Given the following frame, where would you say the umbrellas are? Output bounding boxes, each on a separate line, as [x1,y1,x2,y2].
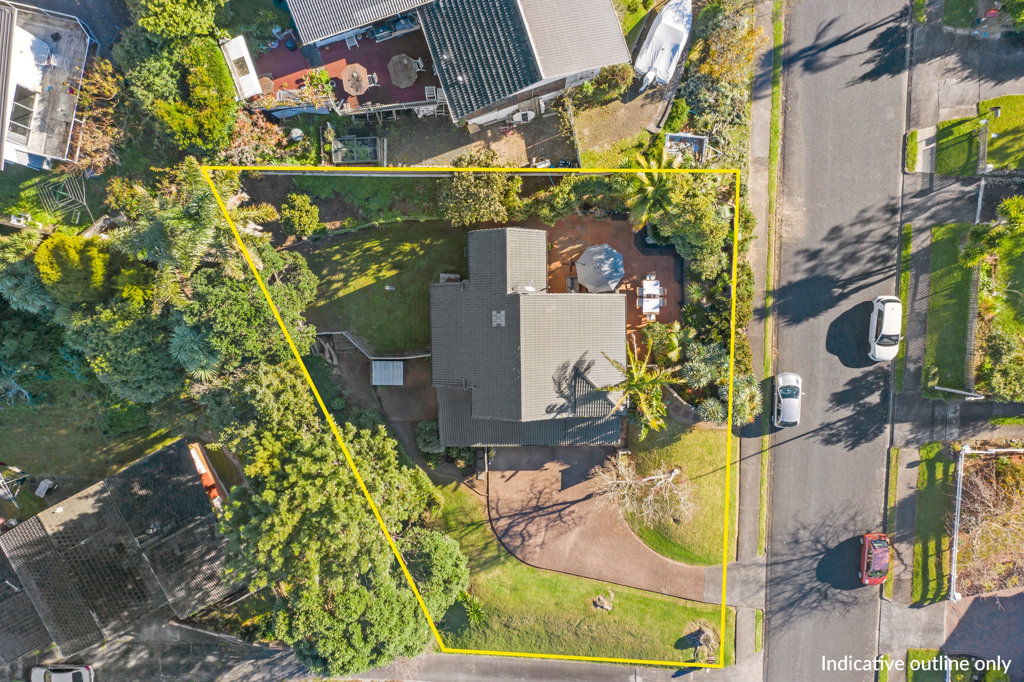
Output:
[563,244,625,293]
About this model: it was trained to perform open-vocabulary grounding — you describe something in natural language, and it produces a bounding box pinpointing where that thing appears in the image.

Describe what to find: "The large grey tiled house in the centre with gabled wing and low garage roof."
[429,226,629,448]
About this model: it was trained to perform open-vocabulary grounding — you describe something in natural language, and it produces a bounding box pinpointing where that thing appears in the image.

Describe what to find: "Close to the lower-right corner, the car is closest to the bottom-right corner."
[855,534,889,589]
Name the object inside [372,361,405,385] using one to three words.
shed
